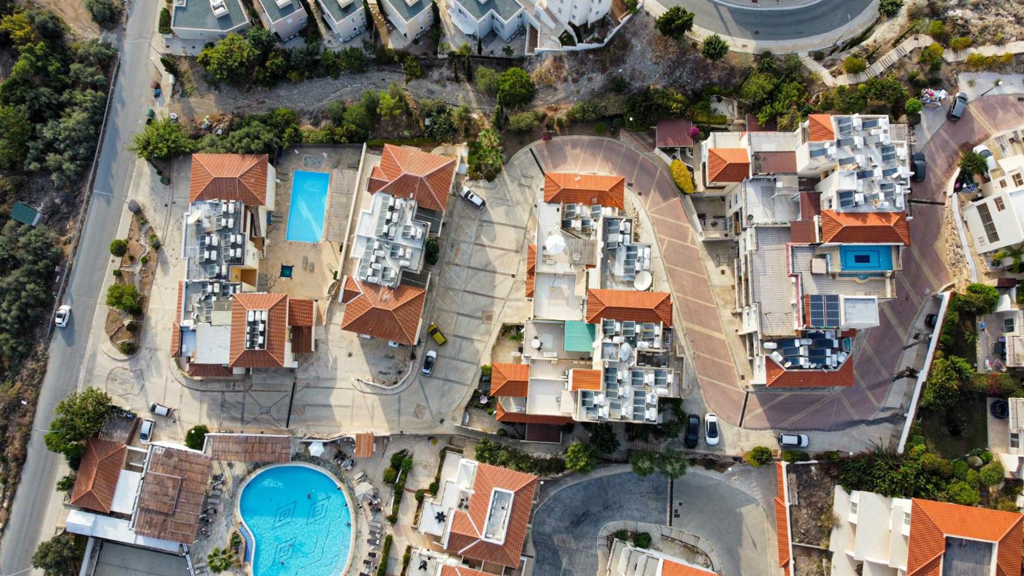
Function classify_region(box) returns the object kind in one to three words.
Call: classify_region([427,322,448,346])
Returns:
car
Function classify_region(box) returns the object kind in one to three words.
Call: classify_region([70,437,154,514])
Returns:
building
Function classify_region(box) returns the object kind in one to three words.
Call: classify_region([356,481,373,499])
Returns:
umbrella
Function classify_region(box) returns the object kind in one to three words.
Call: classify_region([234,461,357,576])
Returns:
swimming pool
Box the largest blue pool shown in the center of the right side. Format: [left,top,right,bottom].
[838,244,896,273]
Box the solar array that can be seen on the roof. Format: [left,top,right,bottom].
[811,295,839,327]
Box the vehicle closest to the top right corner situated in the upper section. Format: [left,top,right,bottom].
[947,91,969,121]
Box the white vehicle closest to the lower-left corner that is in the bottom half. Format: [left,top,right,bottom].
[137,415,157,447]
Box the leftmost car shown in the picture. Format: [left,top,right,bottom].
[54,303,72,329]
